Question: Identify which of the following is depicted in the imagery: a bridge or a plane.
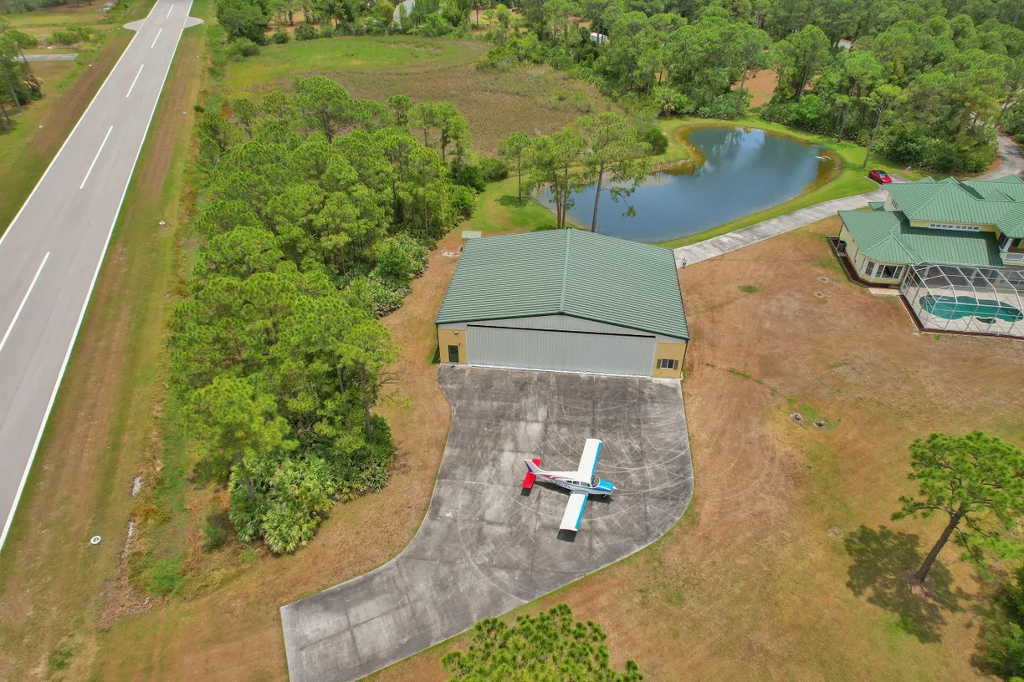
plane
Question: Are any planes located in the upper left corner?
No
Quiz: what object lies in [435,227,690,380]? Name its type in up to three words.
hangar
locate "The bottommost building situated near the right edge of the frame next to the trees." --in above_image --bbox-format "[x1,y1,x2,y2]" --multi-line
[834,162,1024,291]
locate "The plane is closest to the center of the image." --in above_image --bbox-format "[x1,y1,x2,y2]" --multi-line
[524,438,617,532]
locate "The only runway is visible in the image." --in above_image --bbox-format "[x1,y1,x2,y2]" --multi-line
[0,0,192,565]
